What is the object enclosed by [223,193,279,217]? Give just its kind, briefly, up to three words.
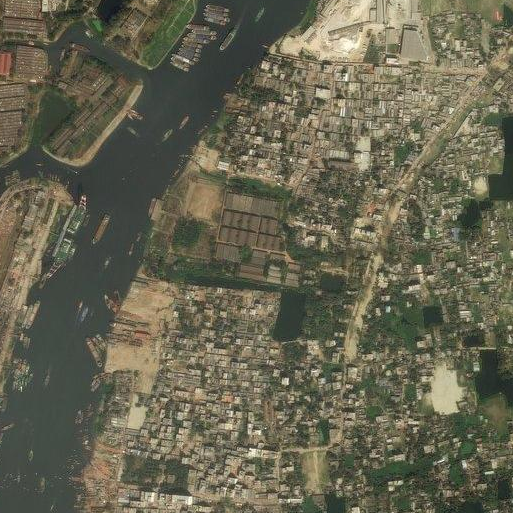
building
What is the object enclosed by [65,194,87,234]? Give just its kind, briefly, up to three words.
ship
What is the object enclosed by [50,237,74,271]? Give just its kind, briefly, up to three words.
ship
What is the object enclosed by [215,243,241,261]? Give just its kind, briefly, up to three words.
building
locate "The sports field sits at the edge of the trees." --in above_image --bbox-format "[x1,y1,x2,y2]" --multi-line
[303,449,329,494]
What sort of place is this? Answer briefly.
residential area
